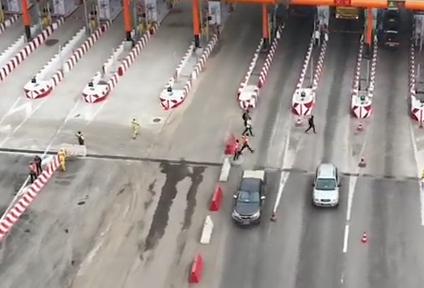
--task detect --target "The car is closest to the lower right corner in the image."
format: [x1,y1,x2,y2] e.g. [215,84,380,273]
[312,155,344,203]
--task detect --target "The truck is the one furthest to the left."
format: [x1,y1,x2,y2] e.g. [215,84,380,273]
[236,162,273,217]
